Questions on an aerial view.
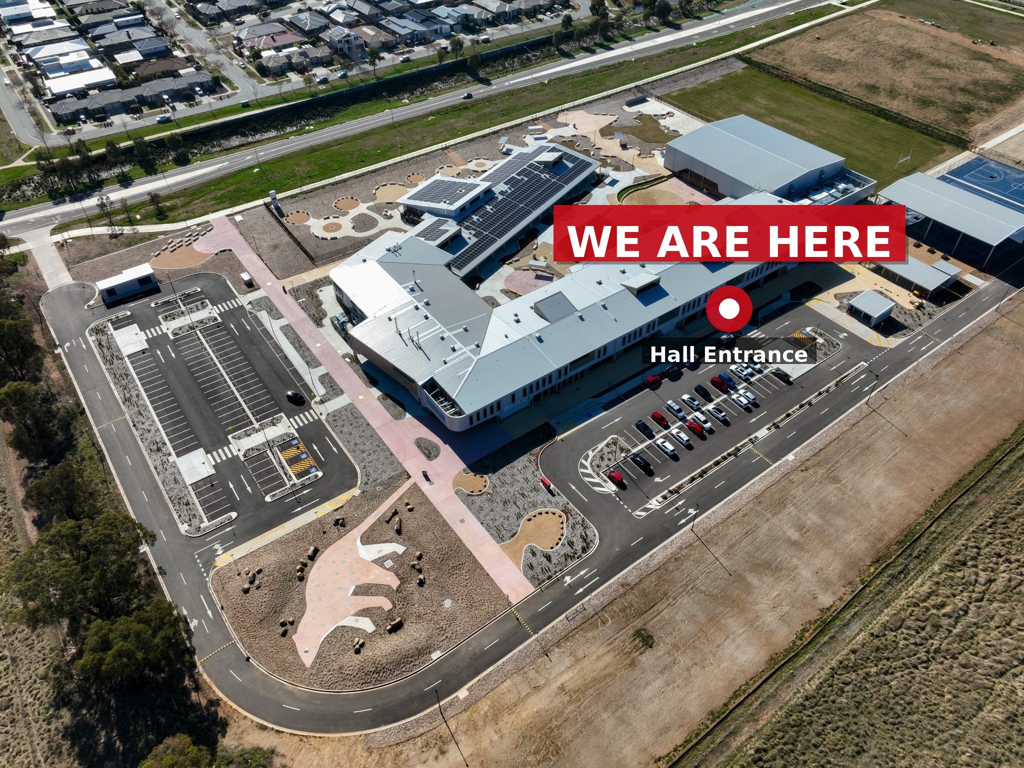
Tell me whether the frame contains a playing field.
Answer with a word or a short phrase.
Yes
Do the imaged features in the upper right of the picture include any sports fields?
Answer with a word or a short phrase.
Yes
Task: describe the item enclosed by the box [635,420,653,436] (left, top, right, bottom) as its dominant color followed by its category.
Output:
black car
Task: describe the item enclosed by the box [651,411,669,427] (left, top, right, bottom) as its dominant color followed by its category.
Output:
red car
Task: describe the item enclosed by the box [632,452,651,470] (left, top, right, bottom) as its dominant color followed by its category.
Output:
black car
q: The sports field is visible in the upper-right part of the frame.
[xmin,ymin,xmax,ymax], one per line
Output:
[659,65,965,195]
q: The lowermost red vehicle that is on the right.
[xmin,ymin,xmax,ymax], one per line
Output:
[605,467,625,486]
